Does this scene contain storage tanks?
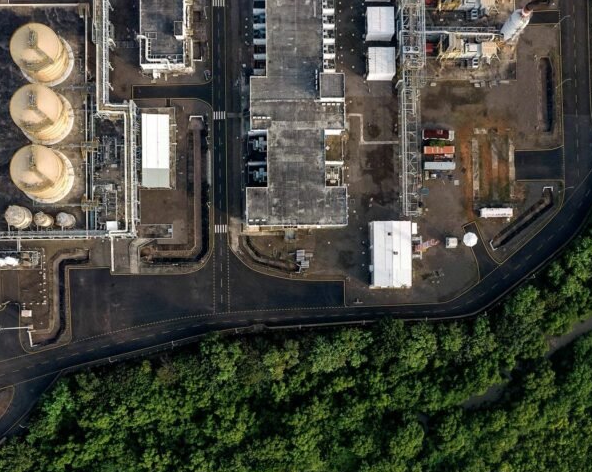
Yes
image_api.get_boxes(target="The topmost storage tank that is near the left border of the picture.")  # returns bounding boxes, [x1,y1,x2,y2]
[11,22,75,86]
